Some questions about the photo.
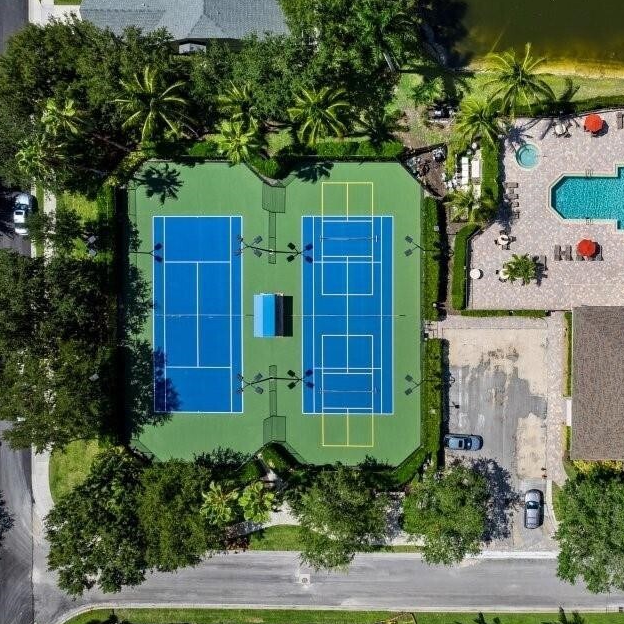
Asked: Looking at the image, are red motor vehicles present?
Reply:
No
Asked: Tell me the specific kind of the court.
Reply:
tennis court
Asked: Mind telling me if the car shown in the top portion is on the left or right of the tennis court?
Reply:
to the left of it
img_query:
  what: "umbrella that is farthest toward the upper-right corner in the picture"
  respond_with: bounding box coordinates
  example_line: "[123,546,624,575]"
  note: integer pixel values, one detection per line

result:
[585,115,603,133]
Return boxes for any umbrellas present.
[585,115,603,133]
[578,239,596,257]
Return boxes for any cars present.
[444,433,483,451]
[14,194,36,235]
[524,487,543,528]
